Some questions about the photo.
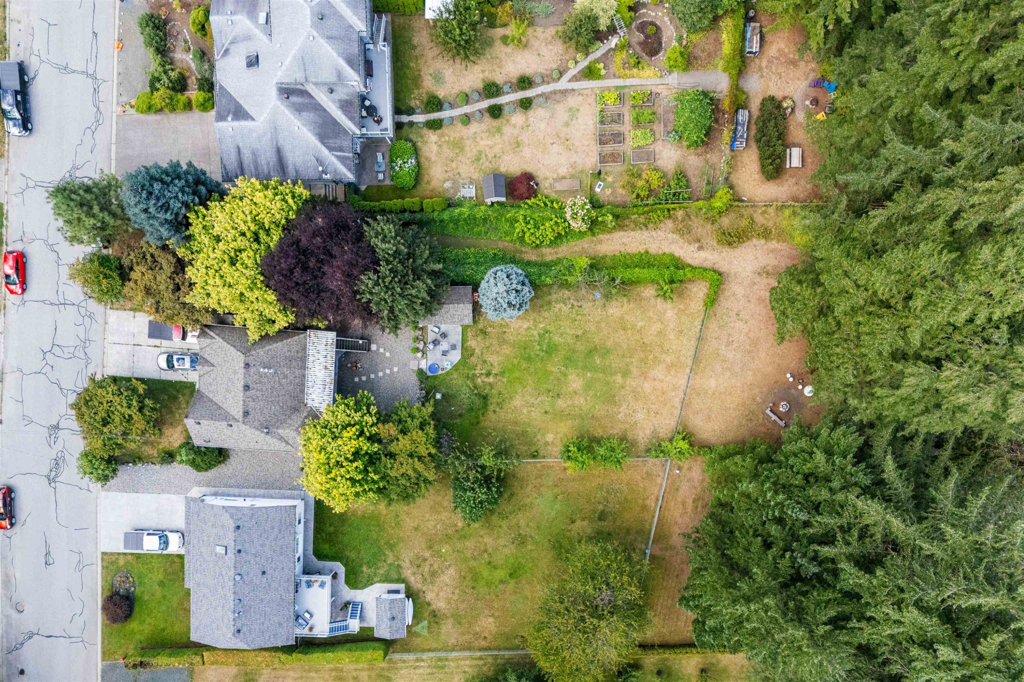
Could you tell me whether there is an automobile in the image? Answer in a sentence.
Yes, looking at the shot, I can spot an automobile.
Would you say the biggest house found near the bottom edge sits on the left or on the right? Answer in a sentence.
The biggest house found near the bottom edge sits on the left side.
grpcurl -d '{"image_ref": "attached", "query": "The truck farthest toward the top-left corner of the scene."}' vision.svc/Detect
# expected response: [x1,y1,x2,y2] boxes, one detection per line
[0,67,31,132]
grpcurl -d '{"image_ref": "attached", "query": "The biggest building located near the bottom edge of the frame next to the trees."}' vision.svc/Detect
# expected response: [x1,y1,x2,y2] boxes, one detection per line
[185,495,363,650]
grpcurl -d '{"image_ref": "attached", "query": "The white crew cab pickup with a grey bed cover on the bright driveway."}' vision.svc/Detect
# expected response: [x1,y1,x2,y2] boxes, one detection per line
[123,528,185,554]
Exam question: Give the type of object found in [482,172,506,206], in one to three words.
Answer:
shed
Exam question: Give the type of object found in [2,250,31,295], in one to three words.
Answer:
car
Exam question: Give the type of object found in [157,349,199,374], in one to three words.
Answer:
car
